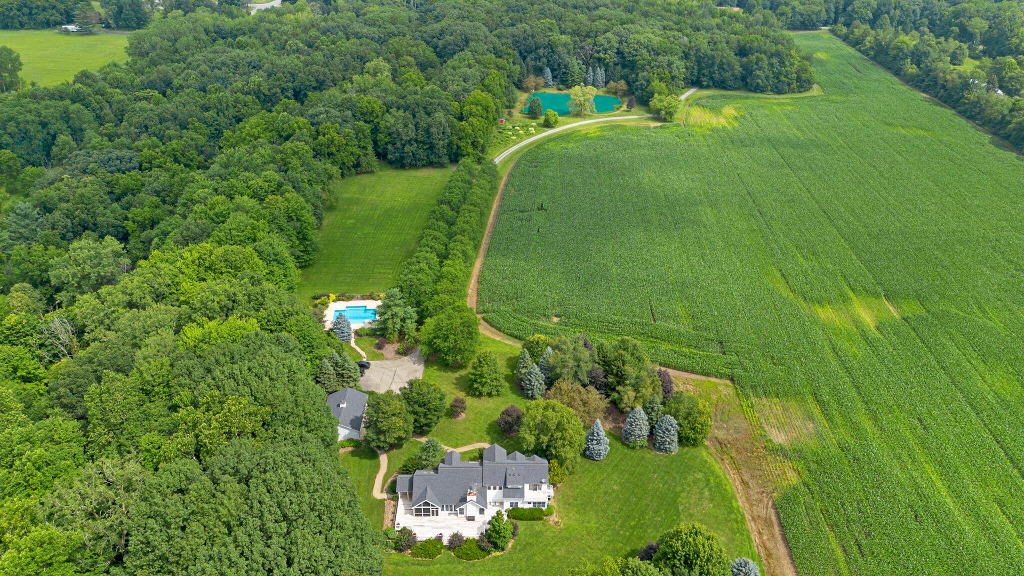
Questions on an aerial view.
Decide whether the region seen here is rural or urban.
rural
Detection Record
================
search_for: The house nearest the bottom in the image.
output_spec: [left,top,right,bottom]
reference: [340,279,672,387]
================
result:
[394,442,556,545]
